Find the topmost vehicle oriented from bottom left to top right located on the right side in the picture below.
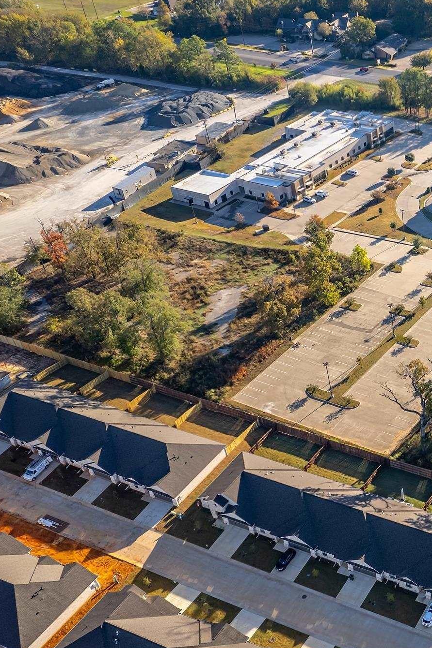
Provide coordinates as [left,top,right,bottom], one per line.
[273,549,299,571]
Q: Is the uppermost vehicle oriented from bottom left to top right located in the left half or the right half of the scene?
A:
left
